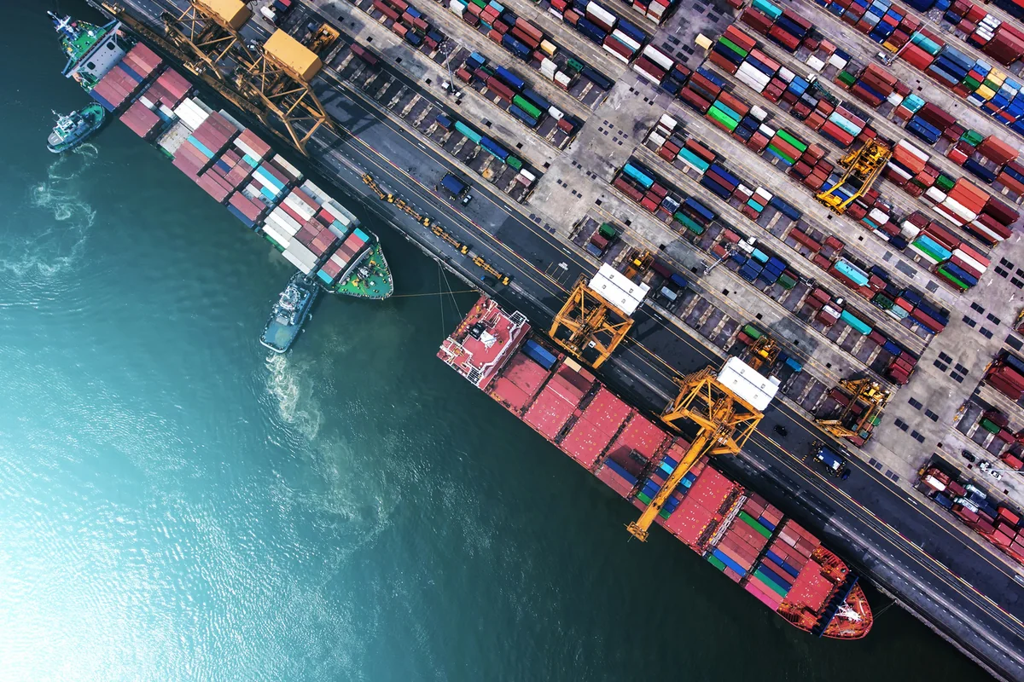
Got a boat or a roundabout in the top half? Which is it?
boat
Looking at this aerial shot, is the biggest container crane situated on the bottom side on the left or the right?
right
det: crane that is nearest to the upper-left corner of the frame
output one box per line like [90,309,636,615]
[172,0,270,106]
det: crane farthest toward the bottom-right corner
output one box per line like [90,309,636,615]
[814,373,903,440]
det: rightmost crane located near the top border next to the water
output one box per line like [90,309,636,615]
[240,24,341,160]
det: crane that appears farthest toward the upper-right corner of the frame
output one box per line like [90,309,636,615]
[812,137,894,215]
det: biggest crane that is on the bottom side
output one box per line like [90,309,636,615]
[625,338,781,542]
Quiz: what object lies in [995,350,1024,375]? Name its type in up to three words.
shipping container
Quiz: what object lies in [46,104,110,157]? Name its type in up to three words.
boat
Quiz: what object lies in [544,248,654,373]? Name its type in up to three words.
container crane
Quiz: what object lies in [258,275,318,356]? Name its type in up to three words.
boat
